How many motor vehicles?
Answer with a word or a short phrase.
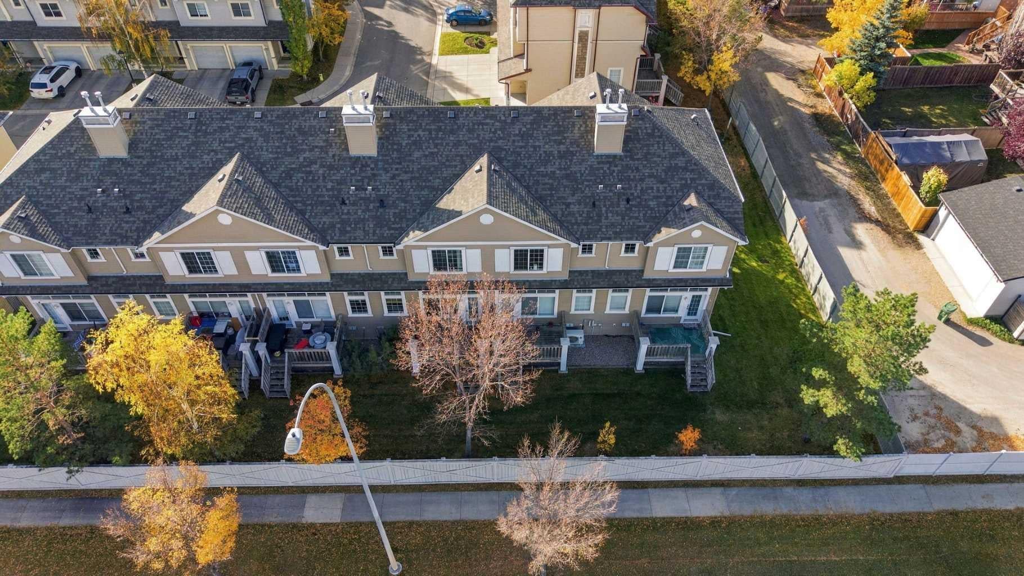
3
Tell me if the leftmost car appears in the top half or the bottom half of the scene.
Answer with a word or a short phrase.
top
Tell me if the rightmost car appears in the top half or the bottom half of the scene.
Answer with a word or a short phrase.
top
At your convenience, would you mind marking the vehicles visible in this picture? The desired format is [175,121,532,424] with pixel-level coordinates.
[224,63,263,105]
[30,62,80,98]
[444,4,493,26]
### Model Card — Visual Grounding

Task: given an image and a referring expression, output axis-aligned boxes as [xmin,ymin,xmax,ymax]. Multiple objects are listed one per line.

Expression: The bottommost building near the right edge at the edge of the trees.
[923,171,1024,330]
